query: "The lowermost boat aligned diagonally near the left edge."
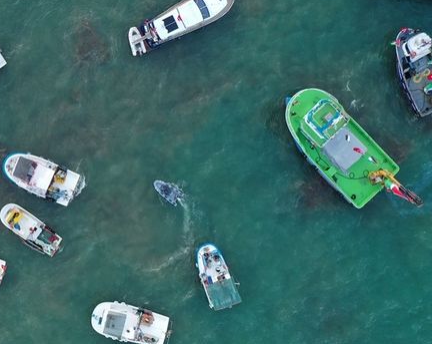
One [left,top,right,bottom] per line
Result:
[0,205,64,257]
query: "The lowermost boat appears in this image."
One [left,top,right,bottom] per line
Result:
[92,300,171,344]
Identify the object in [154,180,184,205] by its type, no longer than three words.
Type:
boat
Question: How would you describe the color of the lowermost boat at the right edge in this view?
green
